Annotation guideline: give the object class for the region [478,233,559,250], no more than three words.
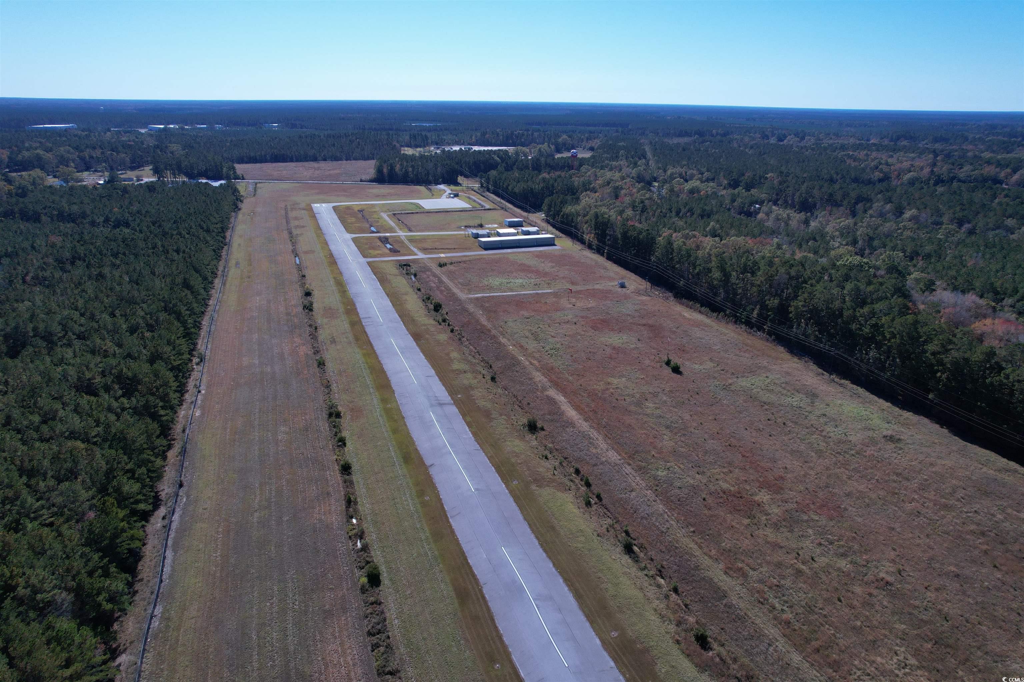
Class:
hangar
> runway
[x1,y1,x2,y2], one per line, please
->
[312,204,628,682]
